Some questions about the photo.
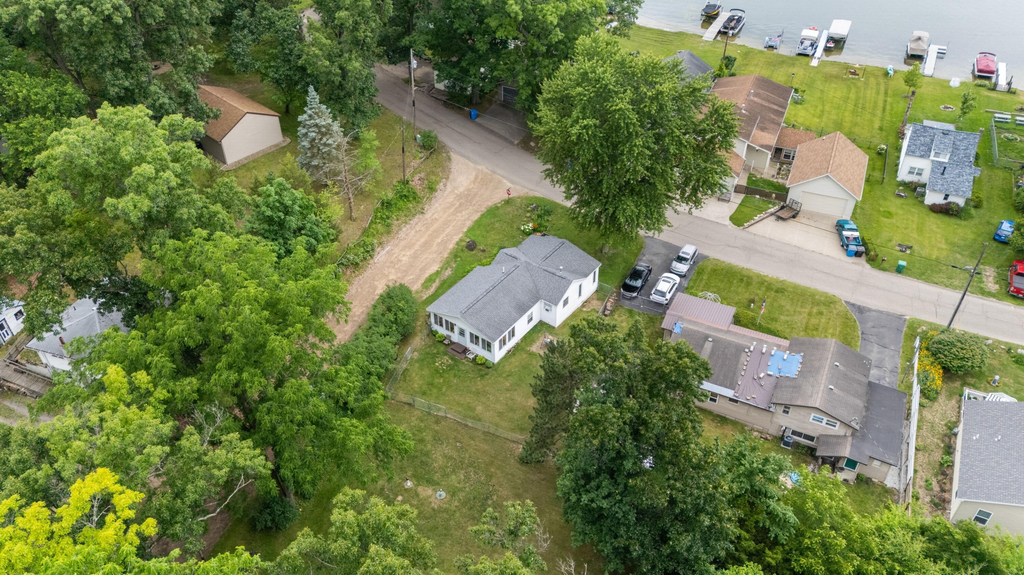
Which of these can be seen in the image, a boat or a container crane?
boat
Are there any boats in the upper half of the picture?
Yes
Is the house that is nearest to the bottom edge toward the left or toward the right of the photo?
right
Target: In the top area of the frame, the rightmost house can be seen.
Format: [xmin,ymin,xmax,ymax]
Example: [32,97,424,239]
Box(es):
[897,122,990,207]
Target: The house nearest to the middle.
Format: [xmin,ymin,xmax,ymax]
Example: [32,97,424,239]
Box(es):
[424,234,604,363]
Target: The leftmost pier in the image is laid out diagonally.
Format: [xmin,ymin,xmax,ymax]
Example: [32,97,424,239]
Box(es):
[702,12,731,40]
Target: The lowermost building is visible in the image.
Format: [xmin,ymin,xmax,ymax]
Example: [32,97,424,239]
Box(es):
[940,399,1024,542]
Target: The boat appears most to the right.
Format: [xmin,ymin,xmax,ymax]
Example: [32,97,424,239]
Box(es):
[976,45,1000,77]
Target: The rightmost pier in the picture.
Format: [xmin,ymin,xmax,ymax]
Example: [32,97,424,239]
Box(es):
[994,63,1014,96]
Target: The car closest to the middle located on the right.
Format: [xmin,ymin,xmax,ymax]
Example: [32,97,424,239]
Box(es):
[621,262,653,296]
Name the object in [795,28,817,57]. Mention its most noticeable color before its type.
white boat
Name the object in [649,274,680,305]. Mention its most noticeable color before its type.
white car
